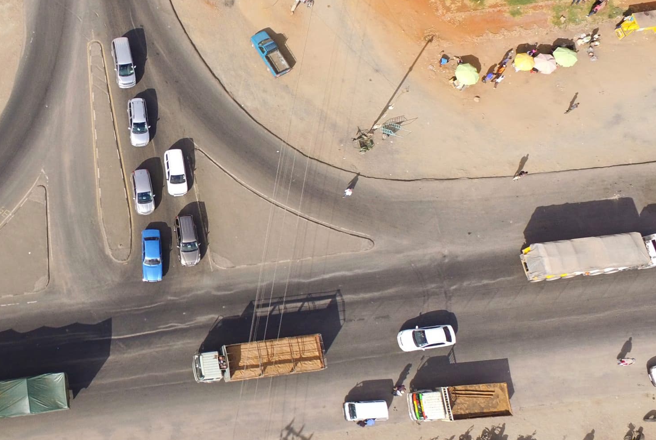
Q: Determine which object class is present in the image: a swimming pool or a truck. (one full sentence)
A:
The one in the frame is a truck.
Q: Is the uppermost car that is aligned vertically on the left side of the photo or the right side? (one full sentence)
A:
The uppermost car that is aligned vertically is on the left side of the image.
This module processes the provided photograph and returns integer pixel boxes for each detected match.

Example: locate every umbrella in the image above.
[551,49,574,70]
[510,54,531,73]
[531,54,553,76]
[454,64,475,87]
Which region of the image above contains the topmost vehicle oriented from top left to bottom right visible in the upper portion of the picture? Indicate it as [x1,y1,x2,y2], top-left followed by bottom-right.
[249,30,295,81]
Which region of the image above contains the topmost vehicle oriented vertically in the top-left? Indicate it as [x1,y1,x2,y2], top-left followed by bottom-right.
[110,34,138,90]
